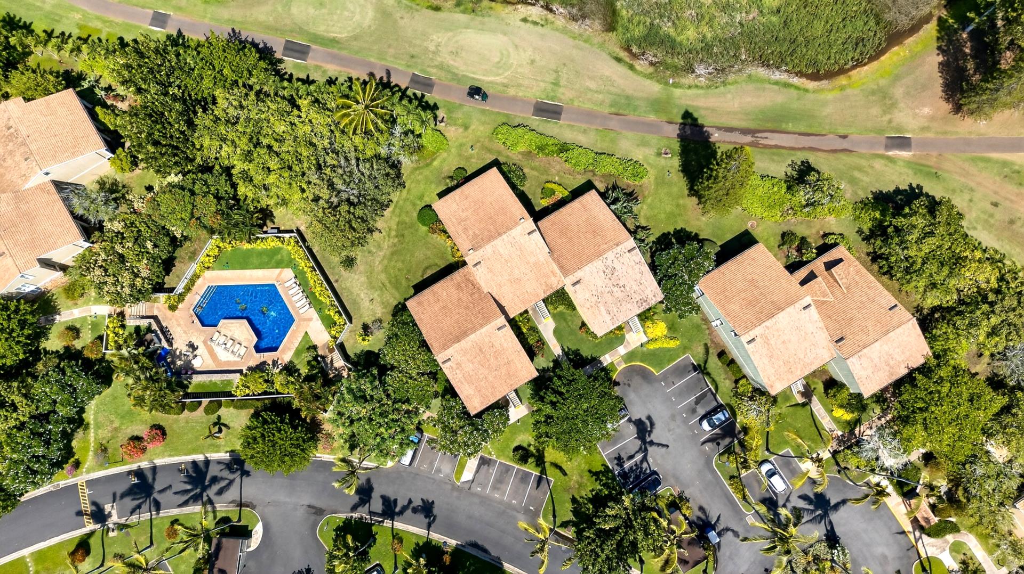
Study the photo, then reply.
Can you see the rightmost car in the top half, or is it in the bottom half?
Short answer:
bottom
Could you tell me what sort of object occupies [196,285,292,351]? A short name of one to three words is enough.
swimming pool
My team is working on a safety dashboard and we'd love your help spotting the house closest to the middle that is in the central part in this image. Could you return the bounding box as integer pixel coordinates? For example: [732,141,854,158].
[405,166,664,415]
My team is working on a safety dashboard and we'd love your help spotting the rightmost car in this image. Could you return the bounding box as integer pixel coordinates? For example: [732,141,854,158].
[753,453,789,499]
